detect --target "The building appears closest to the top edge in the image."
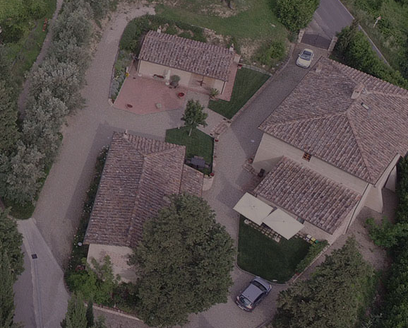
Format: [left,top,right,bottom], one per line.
[138,24,235,93]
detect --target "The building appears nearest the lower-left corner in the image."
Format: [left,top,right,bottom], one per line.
[83,127,208,276]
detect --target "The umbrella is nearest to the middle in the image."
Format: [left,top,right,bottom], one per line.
[234,194,272,228]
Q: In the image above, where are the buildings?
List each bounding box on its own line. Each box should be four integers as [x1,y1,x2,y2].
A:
[138,24,235,93]
[83,127,208,276]
[253,55,408,248]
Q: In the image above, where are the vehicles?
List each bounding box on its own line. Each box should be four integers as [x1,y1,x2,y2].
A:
[297,42,316,65]
[234,274,276,309]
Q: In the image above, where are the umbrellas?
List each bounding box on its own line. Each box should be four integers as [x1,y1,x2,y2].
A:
[234,194,272,228]
[262,209,302,242]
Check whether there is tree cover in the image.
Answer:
Yes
